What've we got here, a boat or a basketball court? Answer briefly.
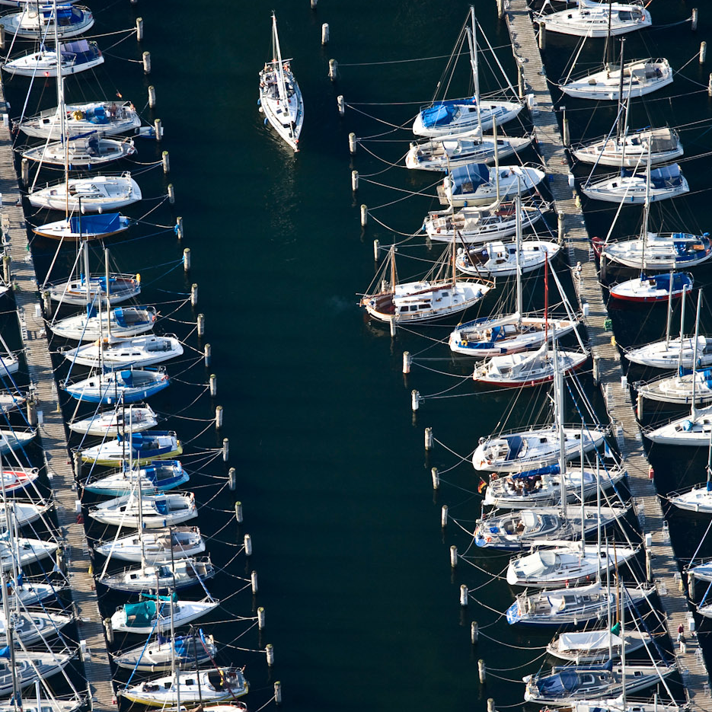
boat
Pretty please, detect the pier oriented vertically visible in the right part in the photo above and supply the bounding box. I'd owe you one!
[502,0,712,712]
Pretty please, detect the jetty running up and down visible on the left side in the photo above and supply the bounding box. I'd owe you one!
[0,80,118,712]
